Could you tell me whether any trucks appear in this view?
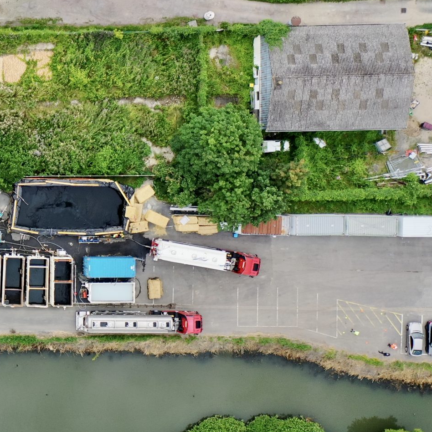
Yes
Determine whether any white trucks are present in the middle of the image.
Yes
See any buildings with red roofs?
No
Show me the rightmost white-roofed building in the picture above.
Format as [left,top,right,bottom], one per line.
[398,215,432,237]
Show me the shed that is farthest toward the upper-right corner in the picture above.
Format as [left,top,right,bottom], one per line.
[252,24,415,131]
